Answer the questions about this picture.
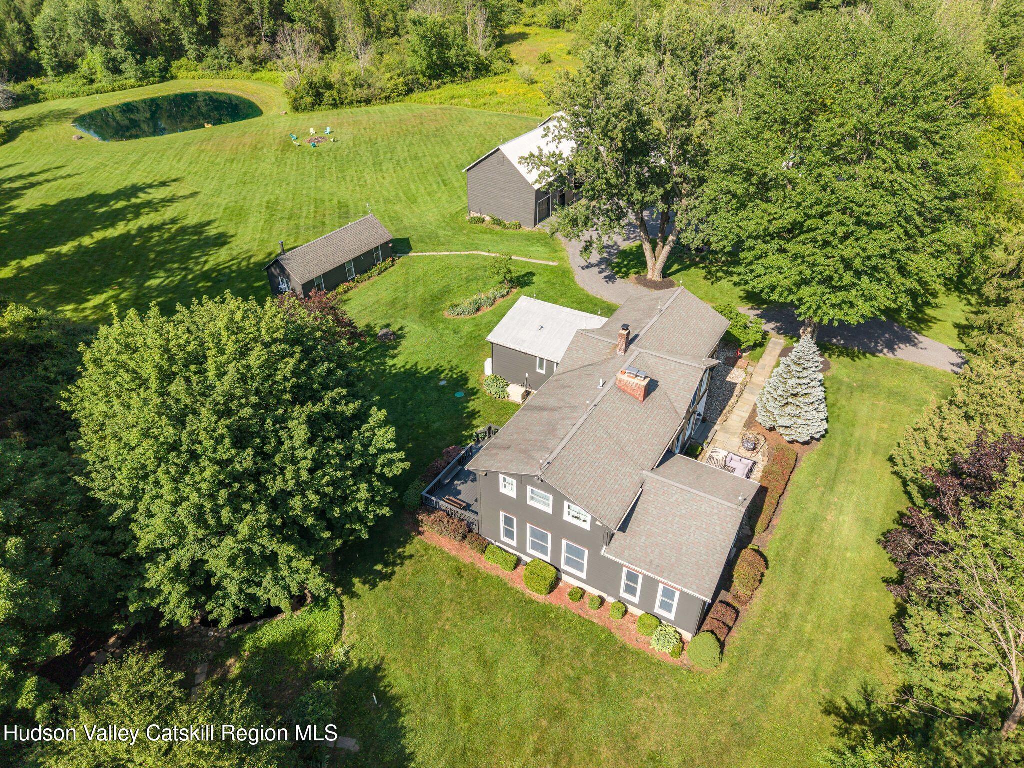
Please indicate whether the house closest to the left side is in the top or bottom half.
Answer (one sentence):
The top half of the photo is where the house closest to the left side is.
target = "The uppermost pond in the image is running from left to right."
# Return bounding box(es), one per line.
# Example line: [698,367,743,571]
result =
[71,91,264,143]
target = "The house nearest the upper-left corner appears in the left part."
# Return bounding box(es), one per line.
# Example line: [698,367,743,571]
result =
[264,203,392,296]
